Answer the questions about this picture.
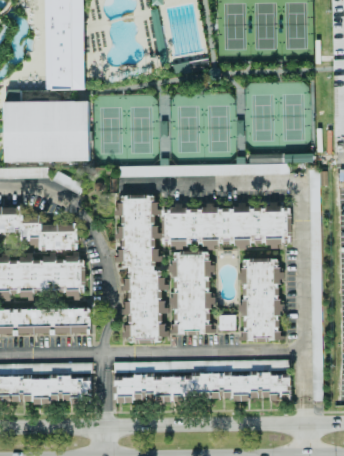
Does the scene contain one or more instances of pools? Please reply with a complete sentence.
Yes, there's a pool here.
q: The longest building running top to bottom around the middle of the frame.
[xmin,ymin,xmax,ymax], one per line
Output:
[116,193,170,344]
